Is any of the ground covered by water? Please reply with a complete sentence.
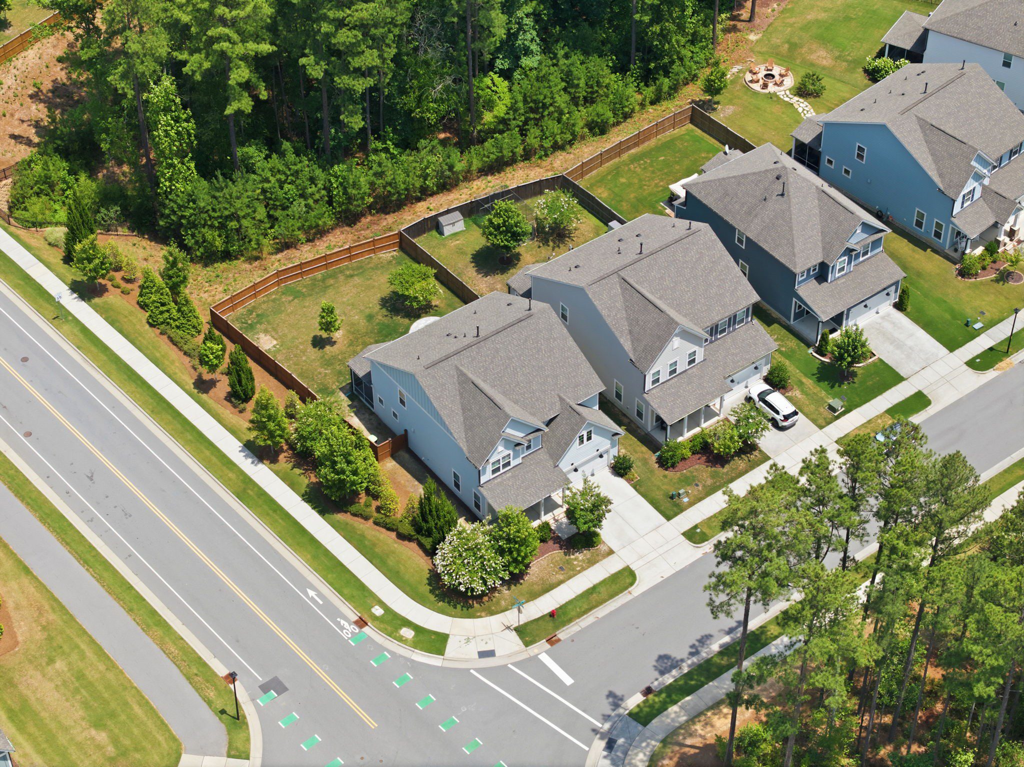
No, there is no water in the image.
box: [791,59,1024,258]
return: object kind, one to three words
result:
house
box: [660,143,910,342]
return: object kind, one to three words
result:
house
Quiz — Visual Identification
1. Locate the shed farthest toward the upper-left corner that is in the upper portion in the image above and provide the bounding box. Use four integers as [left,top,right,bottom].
[441,209,471,242]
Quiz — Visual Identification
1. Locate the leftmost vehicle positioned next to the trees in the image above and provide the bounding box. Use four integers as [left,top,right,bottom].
[746,389,798,432]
